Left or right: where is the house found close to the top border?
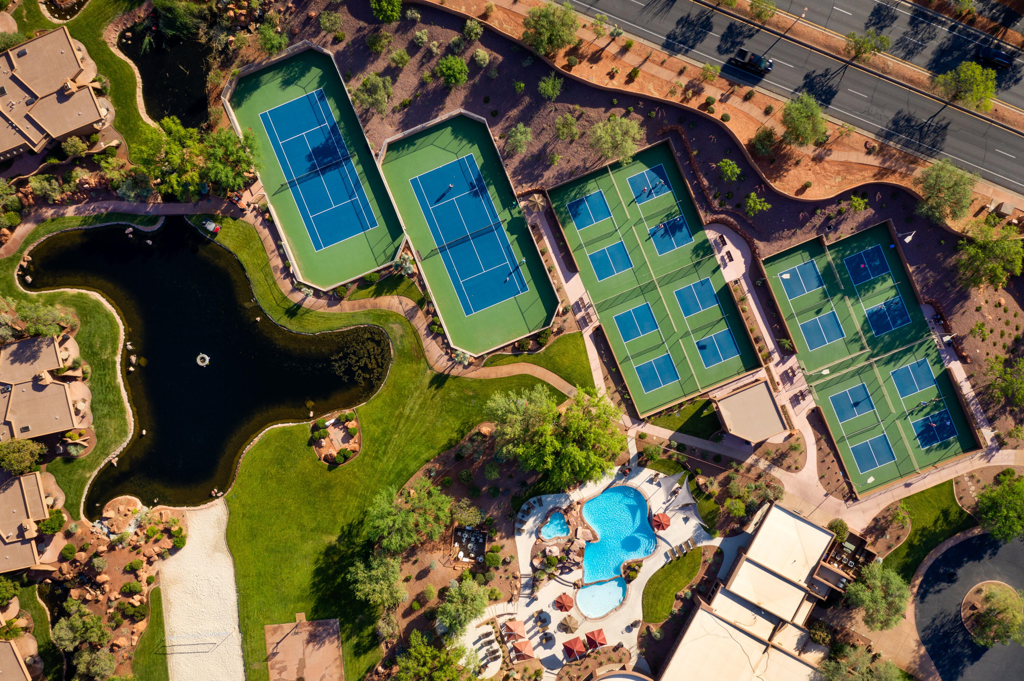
left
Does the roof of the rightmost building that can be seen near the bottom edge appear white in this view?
Yes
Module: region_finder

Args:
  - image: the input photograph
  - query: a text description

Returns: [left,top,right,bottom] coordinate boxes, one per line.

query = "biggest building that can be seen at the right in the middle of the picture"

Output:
[709,378,787,443]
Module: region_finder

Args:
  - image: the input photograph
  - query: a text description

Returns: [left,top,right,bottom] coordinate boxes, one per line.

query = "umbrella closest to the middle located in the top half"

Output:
[529,194,546,211]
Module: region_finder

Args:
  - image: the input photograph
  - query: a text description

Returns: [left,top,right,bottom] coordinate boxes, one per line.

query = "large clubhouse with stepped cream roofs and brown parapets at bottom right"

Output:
[652,500,853,681]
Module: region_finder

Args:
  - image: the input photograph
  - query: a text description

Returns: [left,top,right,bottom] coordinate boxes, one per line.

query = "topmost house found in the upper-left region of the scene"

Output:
[0,25,113,160]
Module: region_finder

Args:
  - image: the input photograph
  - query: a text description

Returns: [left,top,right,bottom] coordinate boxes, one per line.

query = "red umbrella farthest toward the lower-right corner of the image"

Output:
[653,514,670,530]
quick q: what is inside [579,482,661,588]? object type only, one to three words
swimming pool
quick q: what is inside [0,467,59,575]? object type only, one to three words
house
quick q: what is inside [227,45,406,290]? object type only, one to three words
tennis court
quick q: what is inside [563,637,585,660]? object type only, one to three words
umbrella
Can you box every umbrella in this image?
[556,595,573,612]
[563,637,585,660]
[585,629,607,651]
[509,641,534,662]
[561,617,578,633]
[502,621,525,640]
[529,194,546,211]
[653,514,670,530]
